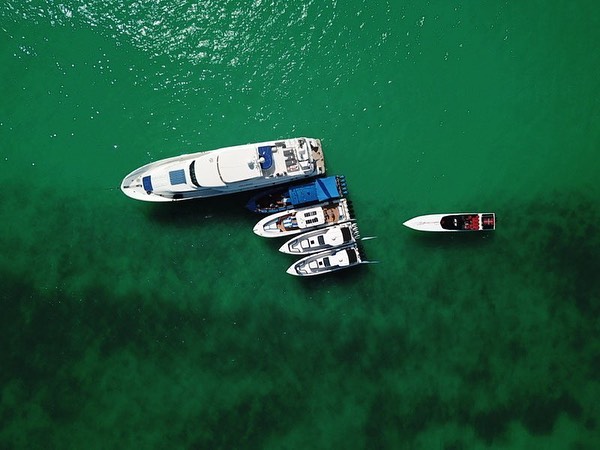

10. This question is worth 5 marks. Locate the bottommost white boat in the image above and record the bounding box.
[287,244,381,275]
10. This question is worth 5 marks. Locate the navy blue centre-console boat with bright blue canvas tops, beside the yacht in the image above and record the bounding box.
[247,176,347,213]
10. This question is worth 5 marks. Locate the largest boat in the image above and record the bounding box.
[114,137,327,201]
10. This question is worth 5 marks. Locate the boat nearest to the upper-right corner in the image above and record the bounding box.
[403,213,496,232]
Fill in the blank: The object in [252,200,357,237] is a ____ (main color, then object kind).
white boat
